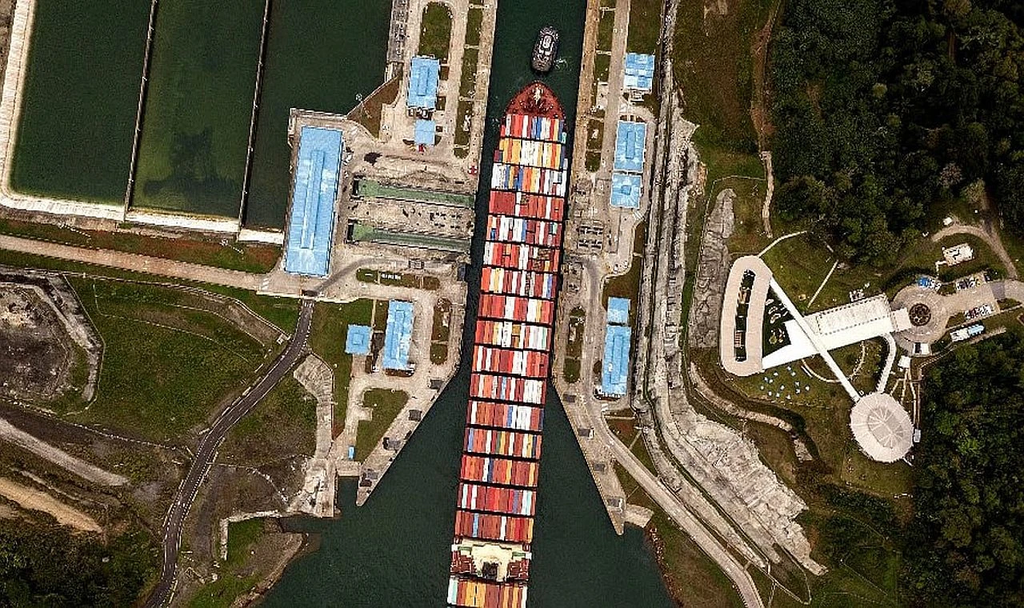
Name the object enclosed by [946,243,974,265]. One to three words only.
house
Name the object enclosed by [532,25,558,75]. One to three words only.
boat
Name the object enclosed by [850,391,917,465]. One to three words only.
building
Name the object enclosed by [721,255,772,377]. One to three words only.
building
